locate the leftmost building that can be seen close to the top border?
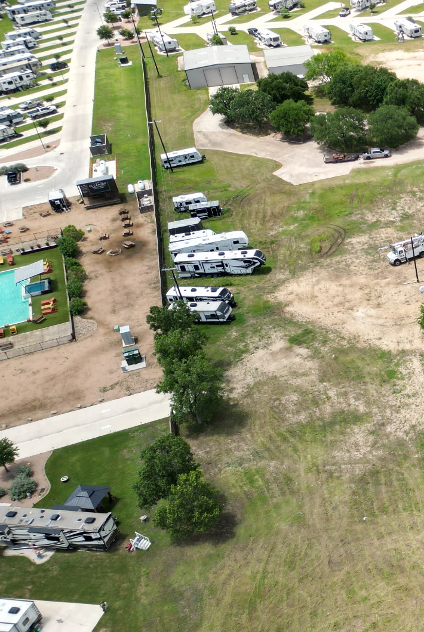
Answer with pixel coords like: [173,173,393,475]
[127,0,159,16]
